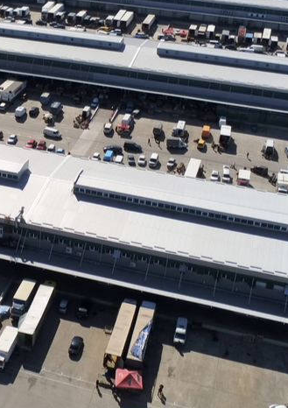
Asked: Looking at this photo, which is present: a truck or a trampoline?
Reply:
truck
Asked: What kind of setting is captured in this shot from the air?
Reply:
industrial area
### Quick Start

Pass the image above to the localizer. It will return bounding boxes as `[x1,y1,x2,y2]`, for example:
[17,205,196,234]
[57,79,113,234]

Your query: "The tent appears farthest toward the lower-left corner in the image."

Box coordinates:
[113,371,143,400]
